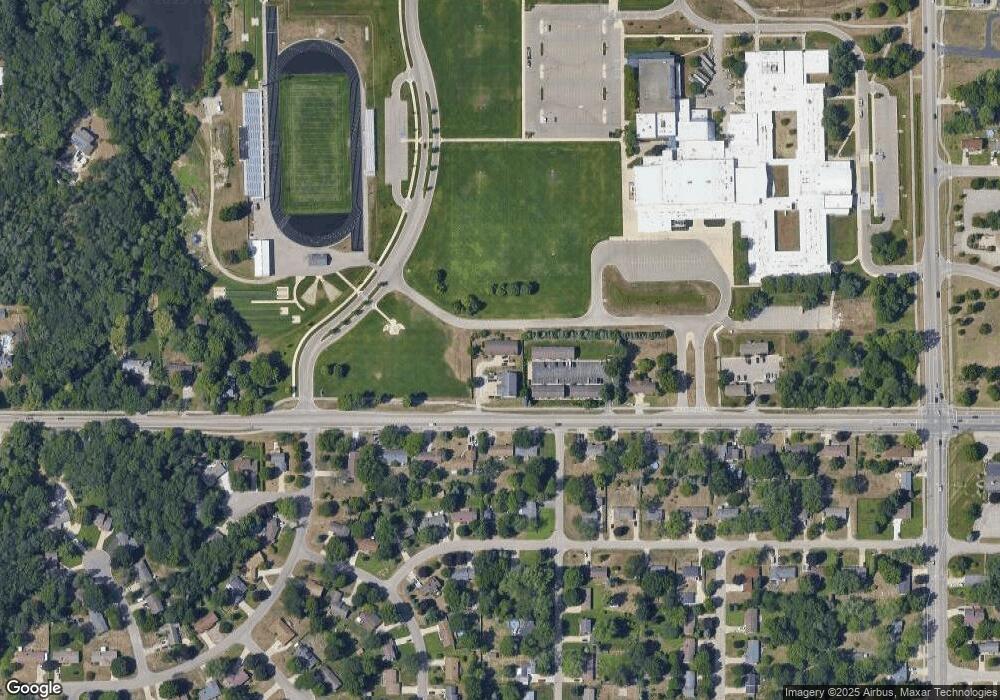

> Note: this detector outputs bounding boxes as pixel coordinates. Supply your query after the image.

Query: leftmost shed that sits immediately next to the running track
[254,239,270,276]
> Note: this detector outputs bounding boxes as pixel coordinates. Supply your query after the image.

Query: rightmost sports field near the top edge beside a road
[418,0,521,139]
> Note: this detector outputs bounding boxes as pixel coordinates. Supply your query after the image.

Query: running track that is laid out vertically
[265,8,364,250]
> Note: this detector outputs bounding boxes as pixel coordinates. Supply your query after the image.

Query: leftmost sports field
[279,73,351,215]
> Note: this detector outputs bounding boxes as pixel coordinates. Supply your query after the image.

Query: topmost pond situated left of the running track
[127,0,217,92]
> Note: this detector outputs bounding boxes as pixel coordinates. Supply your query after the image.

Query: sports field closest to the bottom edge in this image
[315,294,472,398]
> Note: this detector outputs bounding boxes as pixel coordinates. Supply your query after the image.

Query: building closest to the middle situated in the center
[484,341,518,355]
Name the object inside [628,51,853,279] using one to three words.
building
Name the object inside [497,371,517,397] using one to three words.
building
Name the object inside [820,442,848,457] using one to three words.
house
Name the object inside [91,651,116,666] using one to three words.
house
